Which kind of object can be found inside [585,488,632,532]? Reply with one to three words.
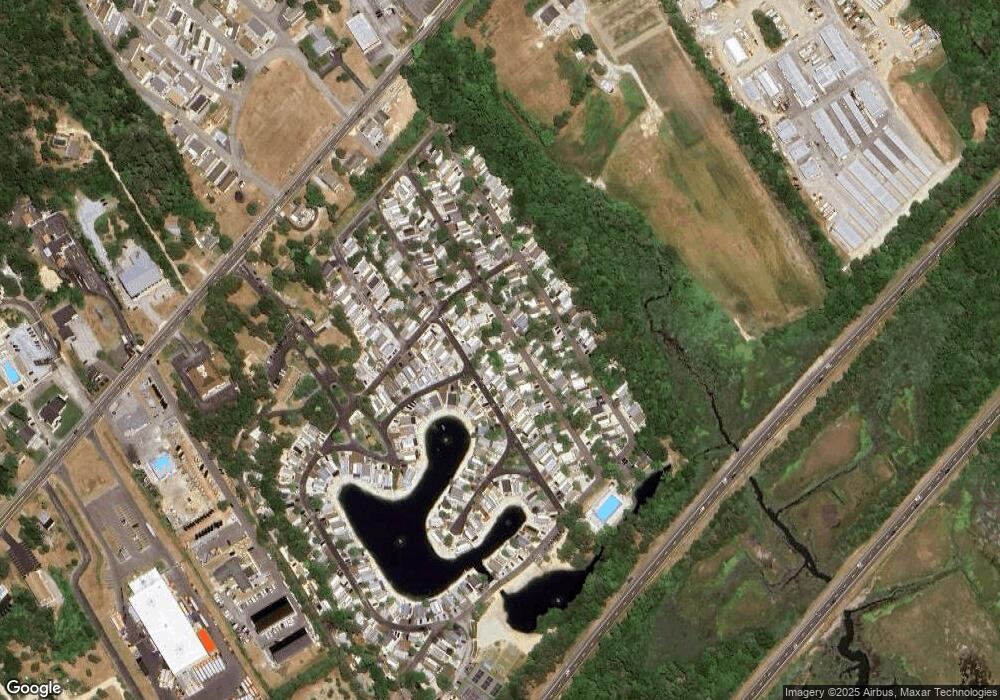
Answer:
swimming pool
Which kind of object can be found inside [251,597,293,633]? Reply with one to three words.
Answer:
shed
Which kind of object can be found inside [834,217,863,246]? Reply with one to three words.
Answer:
building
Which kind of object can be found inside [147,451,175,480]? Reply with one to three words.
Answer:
swimming pool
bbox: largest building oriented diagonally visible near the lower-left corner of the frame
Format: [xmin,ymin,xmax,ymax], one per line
[129,560,208,664]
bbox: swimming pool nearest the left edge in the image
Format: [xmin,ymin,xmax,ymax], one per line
[0,350,22,388]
